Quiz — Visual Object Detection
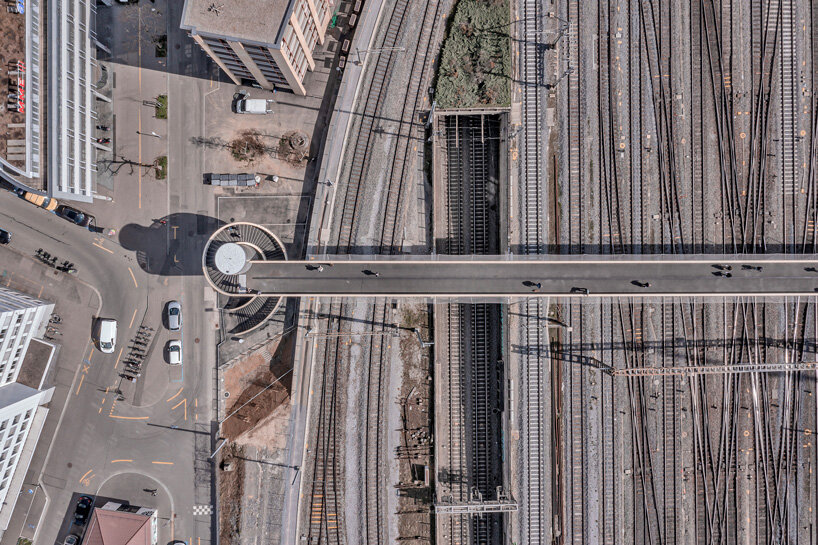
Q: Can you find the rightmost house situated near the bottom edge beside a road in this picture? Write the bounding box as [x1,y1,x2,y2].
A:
[89,502,158,545]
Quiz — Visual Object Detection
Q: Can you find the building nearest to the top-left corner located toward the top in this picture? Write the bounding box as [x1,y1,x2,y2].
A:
[0,0,113,204]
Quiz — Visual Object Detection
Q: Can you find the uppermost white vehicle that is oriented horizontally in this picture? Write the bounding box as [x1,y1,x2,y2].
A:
[237,93,276,110]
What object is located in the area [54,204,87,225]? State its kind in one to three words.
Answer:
car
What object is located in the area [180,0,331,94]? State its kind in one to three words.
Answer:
building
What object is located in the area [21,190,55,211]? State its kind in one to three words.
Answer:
car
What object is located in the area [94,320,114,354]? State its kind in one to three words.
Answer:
vehicle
